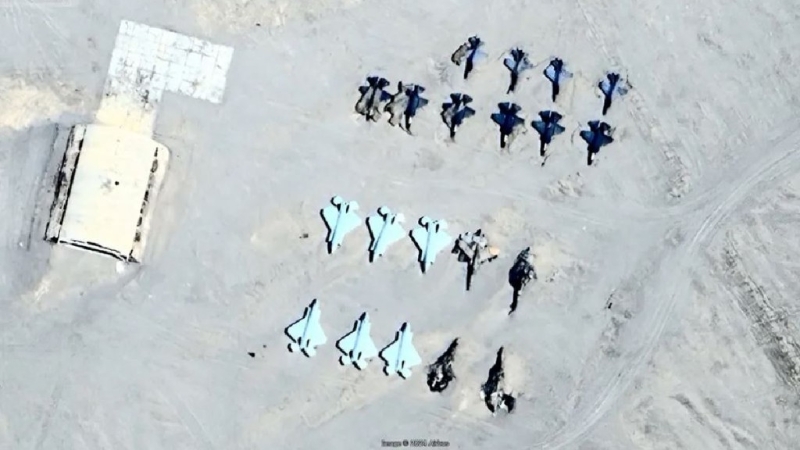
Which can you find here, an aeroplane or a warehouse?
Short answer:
aeroplane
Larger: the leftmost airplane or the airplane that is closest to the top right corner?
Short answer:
the leftmost airplane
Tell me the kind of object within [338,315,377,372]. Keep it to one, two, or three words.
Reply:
airplane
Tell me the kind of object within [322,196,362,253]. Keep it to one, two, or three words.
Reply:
airplane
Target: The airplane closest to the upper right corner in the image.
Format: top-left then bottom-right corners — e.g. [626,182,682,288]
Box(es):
[598,72,627,114]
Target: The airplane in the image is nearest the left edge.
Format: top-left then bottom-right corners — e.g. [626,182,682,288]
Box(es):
[288,301,327,358]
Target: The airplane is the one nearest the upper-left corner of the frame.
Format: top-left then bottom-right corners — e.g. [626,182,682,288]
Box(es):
[355,74,391,122]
